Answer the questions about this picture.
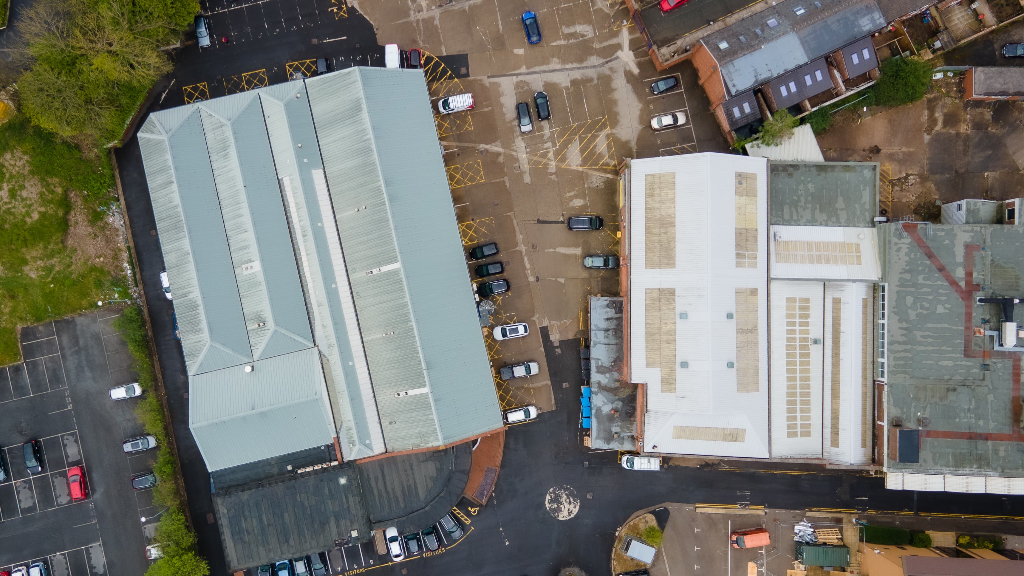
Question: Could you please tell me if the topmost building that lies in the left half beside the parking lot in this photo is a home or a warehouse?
warehouse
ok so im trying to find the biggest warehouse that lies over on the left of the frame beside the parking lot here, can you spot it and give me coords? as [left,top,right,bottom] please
[135,66,508,473]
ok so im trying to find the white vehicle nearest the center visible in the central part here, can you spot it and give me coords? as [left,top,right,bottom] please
[493,322,529,341]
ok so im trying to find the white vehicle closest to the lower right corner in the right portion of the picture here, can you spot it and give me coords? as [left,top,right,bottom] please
[621,454,661,472]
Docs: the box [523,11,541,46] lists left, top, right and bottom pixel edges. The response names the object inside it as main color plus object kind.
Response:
blue car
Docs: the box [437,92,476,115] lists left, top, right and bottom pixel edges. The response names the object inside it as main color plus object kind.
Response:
white vehicle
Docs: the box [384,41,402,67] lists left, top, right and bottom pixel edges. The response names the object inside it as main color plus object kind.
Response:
white vehicle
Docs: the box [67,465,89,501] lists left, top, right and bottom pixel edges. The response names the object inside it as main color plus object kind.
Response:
red car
